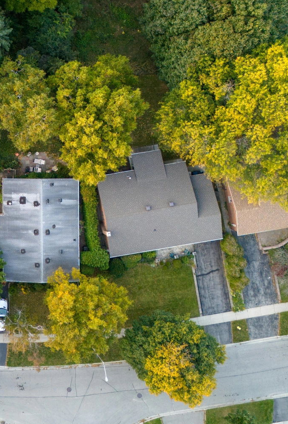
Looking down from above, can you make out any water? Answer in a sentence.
No, the scene doesn't show any water.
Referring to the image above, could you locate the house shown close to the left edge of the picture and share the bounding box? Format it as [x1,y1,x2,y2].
[0,178,79,282]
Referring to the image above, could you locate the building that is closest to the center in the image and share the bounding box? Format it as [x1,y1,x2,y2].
[95,149,222,258]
